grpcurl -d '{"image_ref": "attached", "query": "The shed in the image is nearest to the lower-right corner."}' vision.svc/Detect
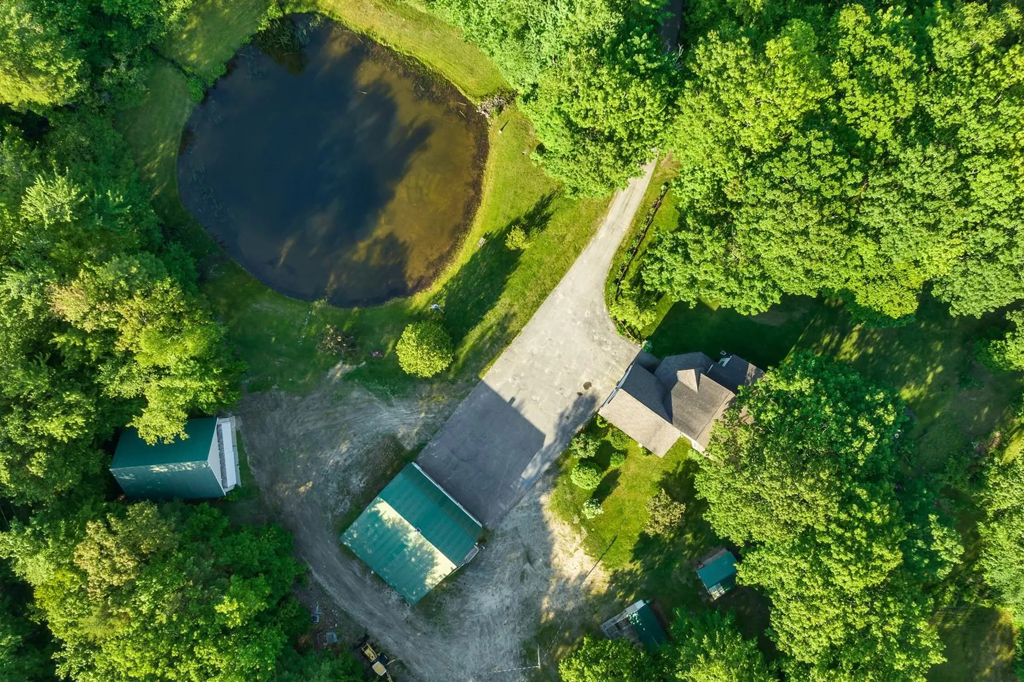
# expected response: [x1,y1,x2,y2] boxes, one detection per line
[689,538,742,598]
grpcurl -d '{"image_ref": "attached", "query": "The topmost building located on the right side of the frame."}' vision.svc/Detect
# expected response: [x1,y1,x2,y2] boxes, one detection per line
[597,348,766,458]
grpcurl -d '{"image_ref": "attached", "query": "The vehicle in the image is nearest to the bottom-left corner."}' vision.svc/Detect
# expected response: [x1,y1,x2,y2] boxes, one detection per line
[355,622,402,682]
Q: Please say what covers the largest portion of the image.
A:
trees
